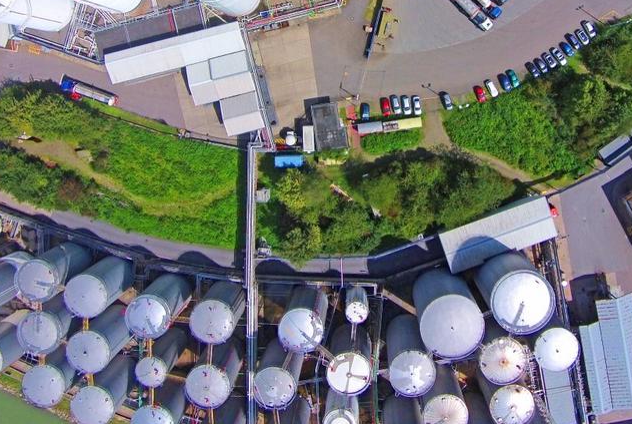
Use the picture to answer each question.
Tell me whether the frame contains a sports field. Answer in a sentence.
No, I find no sports field anywhere in the image.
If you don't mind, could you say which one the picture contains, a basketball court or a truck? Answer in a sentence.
It is a truck that can be seen here.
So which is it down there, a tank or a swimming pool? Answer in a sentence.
The one in the frame is a tank.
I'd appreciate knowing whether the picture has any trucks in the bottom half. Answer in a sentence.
No, there is no truck in the bottom half.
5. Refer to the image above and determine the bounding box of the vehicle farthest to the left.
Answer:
[63,76,123,107]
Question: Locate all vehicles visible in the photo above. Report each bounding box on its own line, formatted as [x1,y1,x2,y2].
[391,96,400,115]
[450,0,494,34]
[474,85,485,103]
[506,71,519,88]
[542,52,559,70]
[442,91,452,110]
[581,20,599,39]
[526,62,542,79]
[412,96,421,115]
[551,48,568,65]
[361,103,369,119]
[498,74,512,93]
[534,58,550,75]
[566,32,582,51]
[475,0,503,21]
[401,96,411,115]
[574,28,591,46]
[63,76,123,107]
[559,41,574,58]
[381,99,390,115]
